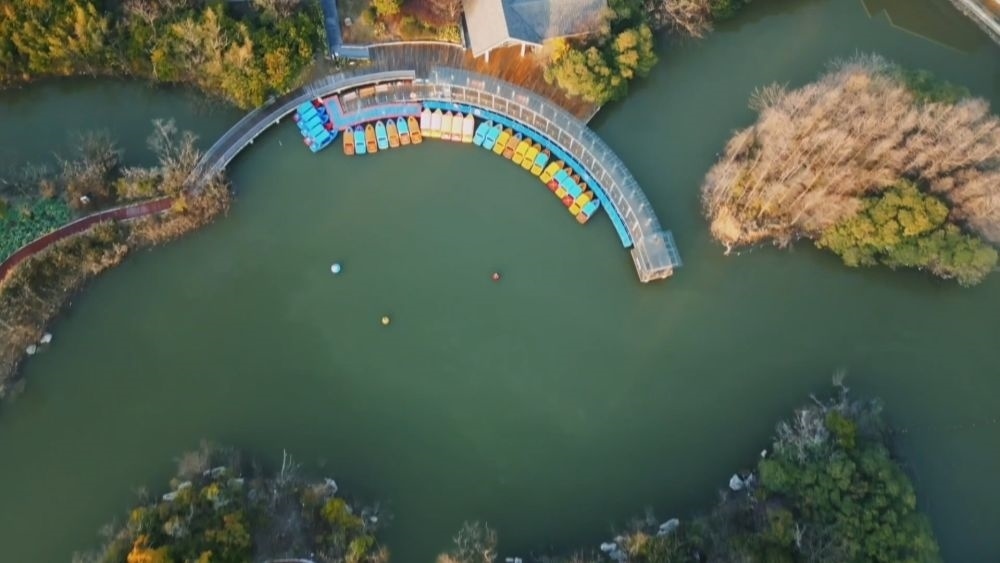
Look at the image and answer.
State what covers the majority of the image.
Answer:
water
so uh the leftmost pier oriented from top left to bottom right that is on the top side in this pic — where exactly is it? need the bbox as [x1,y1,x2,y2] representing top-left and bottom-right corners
[346,63,690,282]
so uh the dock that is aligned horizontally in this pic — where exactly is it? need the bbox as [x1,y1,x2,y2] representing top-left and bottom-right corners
[323,96,419,133]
